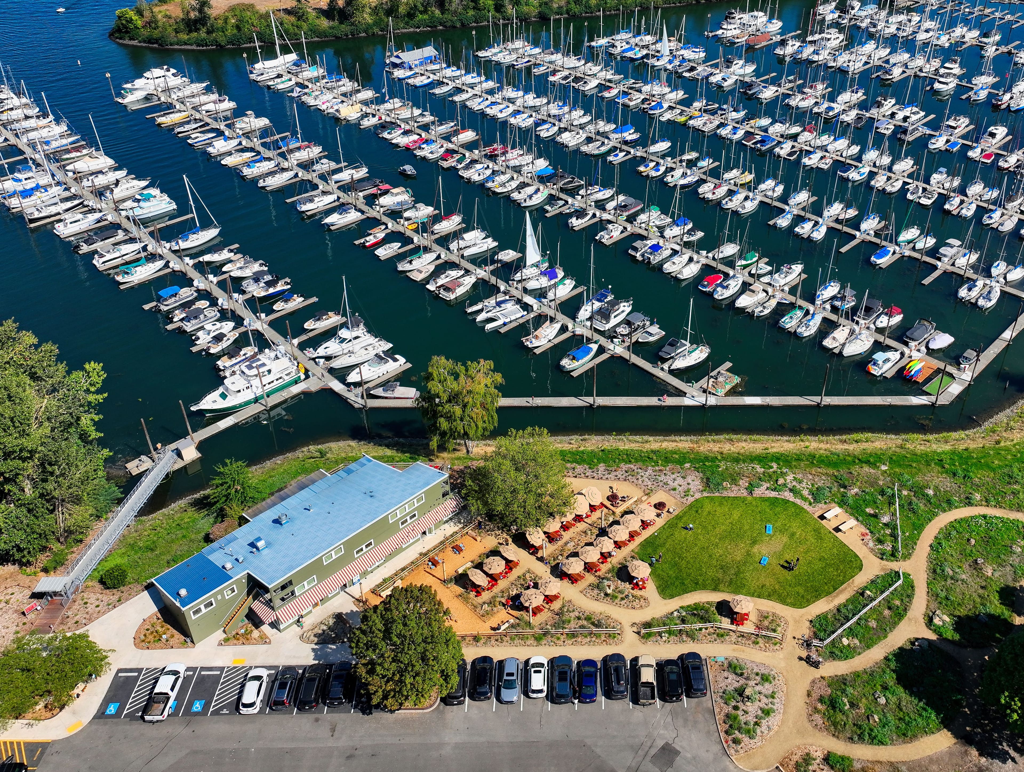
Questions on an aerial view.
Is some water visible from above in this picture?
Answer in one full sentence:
Yes, there's water in this view.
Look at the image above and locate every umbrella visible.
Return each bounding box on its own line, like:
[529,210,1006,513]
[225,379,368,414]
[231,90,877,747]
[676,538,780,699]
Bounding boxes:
[578,549,600,572]
[595,540,616,562]
[582,492,602,513]
[636,508,657,530]
[467,573,489,596]
[499,548,521,571]
[540,580,562,605]
[629,565,651,588]
[526,532,546,554]
[561,560,583,583]
[542,520,563,535]
[484,559,506,583]
[570,501,591,522]
[607,528,628,543]
[521,592,544,616]
[619,518,640,540]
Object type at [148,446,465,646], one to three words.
building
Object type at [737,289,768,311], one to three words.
boat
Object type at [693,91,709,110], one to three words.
boat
